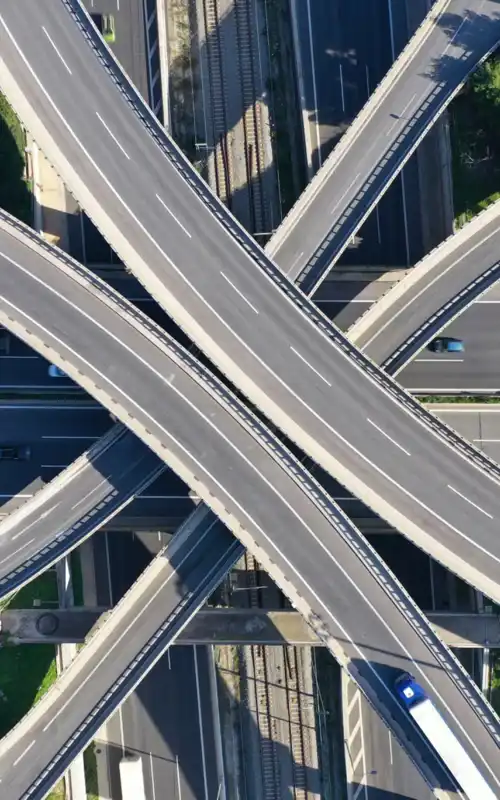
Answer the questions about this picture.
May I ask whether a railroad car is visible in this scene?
No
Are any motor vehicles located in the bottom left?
Yes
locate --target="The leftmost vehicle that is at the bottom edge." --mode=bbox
[120,755,147,800]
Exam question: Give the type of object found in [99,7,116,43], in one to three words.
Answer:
vehicle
